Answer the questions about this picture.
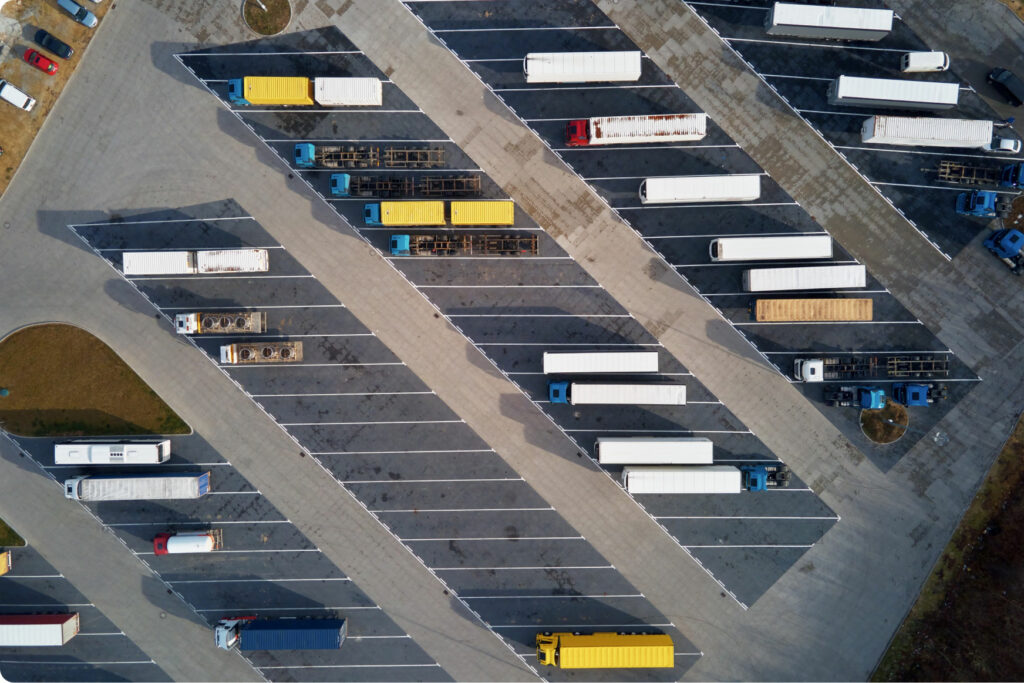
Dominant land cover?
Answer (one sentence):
Most of the picture is covered by paved ground.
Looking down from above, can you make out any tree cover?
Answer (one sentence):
No, no tree cover is visible.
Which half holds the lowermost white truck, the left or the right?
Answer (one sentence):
You can find the lowermost white truck on the left side of the picture.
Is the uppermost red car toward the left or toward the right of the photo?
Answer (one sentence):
The uppermost red car sits on the left side.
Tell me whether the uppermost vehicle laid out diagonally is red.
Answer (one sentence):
No, the uppermost vehicle laid out diagonally is blue.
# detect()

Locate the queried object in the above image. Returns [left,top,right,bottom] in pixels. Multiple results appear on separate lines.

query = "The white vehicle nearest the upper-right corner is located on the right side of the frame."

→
[902,52,948,74]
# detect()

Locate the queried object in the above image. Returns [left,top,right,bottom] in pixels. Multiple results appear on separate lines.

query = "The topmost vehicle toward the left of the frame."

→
[53,0,96,29]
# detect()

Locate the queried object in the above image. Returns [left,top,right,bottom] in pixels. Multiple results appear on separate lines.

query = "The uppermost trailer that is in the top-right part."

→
[765,2,893,43]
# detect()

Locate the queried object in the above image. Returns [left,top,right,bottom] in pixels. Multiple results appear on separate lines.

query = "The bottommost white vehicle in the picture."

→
[0,610,81,646]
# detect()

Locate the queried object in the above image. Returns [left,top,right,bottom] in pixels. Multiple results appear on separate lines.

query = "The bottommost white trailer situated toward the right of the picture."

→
[621,464,741,492]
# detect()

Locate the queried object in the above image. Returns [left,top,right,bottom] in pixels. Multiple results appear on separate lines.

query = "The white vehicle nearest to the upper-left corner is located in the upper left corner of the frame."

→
[0,80,36,113]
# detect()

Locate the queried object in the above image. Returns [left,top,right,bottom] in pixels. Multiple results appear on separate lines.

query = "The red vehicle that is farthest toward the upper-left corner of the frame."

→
[22,49,59,76]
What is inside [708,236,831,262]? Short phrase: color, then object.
white trailer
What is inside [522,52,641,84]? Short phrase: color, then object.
white trailer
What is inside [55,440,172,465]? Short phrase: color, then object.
white bus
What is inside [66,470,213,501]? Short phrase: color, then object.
white truck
